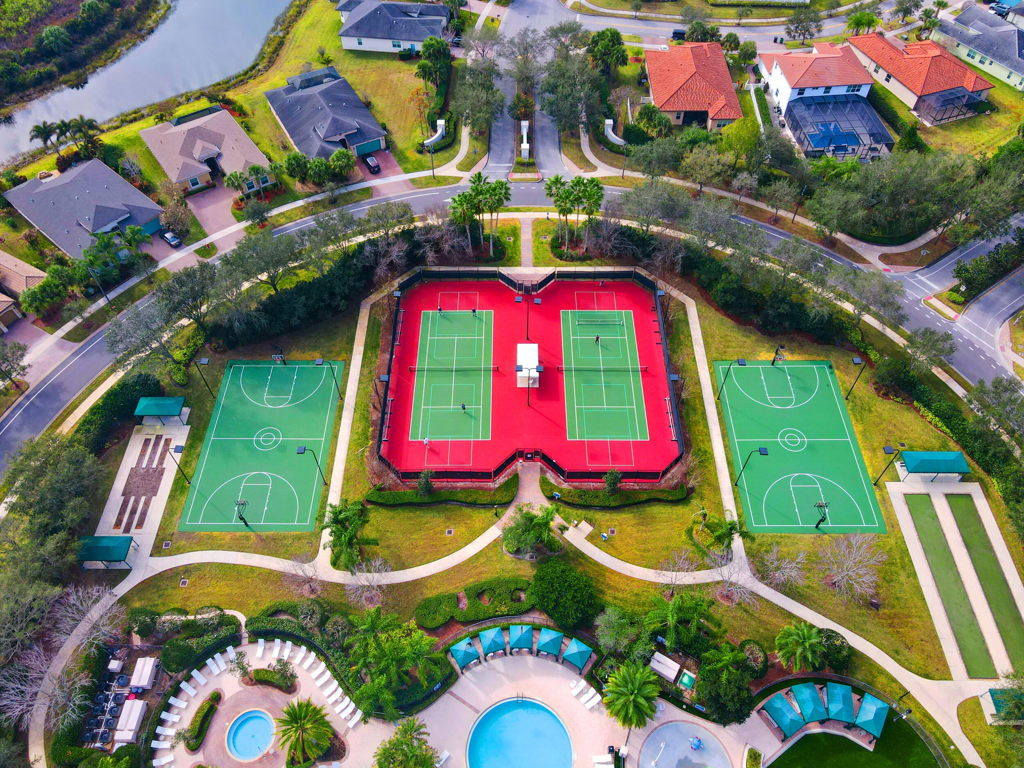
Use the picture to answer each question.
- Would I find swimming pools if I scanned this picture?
Yes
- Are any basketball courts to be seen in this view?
Yes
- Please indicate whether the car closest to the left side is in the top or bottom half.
top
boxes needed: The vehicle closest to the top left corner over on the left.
[158,226,182,246]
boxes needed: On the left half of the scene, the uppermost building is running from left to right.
[336,0,454,53]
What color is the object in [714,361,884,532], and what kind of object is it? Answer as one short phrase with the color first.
green basketball court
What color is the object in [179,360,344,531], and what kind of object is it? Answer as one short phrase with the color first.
green basketball court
